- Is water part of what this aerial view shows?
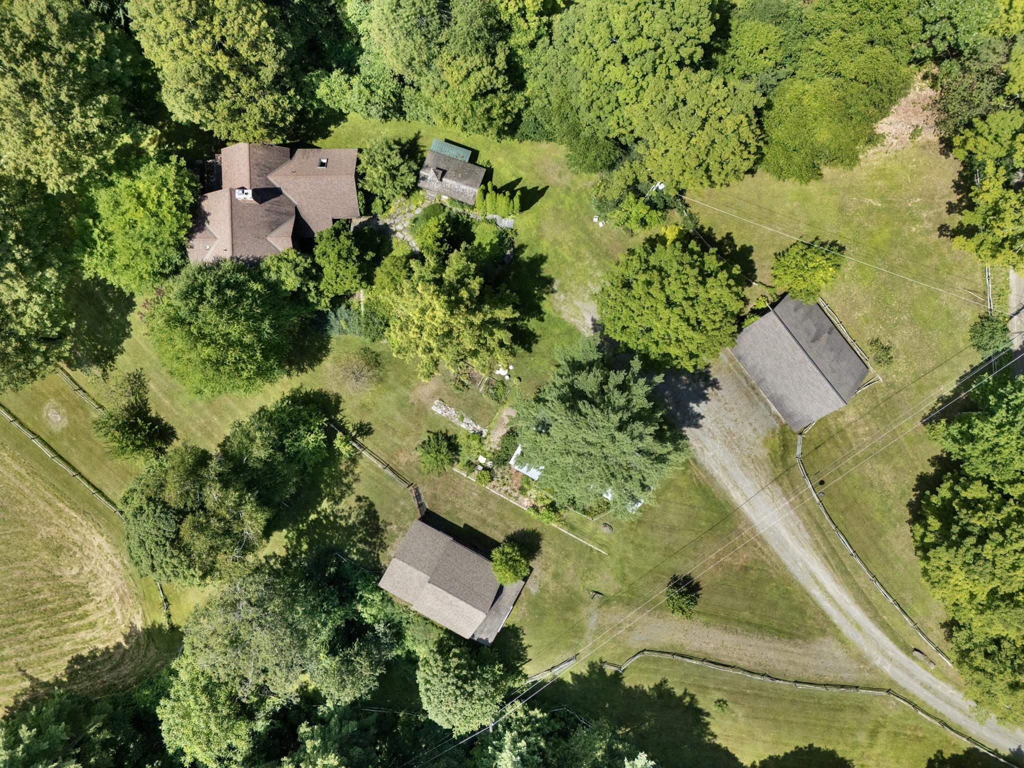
No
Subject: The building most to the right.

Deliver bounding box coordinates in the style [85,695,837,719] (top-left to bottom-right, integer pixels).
[724,284,869,433]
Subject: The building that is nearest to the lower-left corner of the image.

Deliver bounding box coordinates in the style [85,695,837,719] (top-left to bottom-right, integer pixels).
[379,518,533,644]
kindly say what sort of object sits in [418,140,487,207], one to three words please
shed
